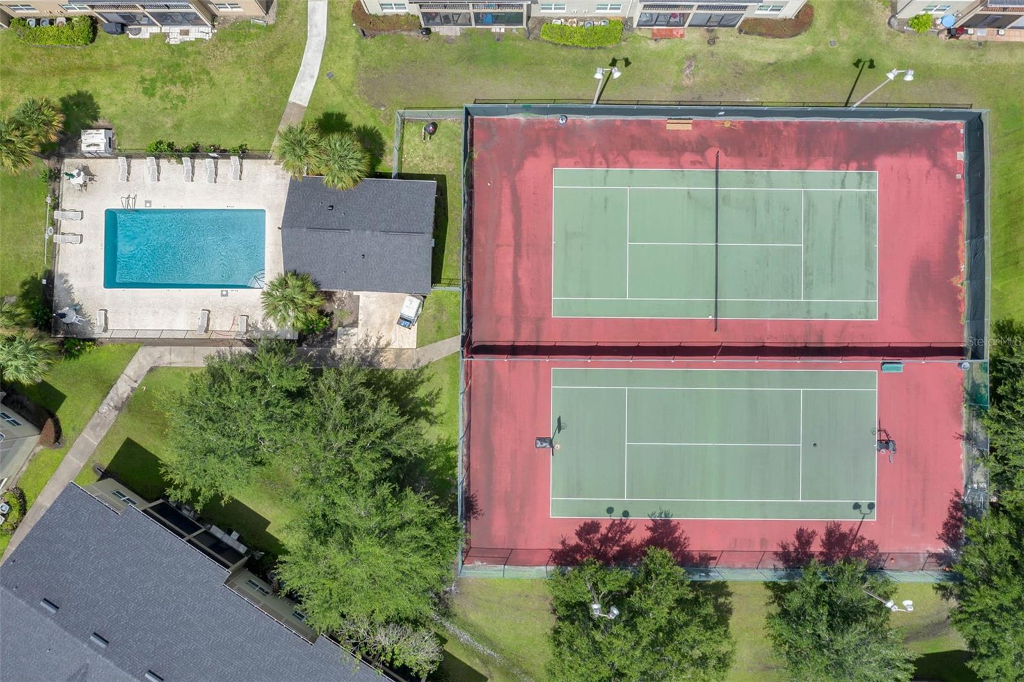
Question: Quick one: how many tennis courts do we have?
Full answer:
My tally gives 2 tennis courts in this view.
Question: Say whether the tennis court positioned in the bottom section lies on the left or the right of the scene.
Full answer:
The tennis court positioned in the bottom section appears in the right half of the scene.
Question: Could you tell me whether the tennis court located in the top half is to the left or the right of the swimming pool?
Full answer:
Looking at the picture, you'll find the tennis court located in the top half to the right of the swimming pool.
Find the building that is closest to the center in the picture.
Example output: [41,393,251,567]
[275,176,436,295]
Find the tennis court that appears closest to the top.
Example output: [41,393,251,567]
[470,120,964,360]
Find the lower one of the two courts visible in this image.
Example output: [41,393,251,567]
[468,359,964,569]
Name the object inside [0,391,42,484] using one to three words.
building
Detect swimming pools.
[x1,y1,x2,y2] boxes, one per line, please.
[97,200,267,297]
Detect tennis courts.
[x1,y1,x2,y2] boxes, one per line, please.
[470,120,964,360]
[468,359,964,569]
